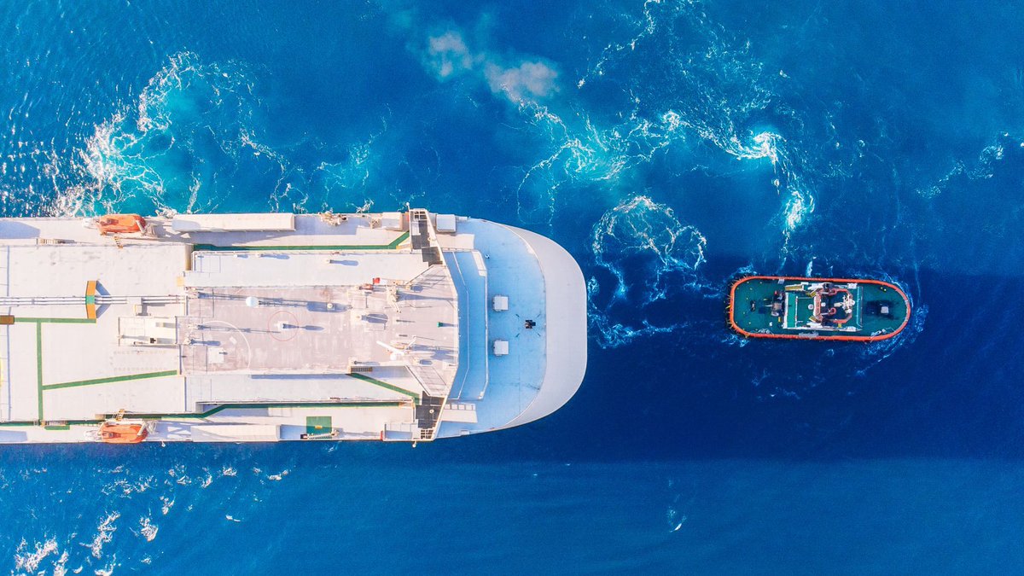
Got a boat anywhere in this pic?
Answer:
Yes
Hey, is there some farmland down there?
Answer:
No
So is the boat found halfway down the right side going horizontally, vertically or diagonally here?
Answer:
horizontally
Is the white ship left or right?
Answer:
left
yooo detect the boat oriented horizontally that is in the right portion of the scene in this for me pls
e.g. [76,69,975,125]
[725,274,910,342]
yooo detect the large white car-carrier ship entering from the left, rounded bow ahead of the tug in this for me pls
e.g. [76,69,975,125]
[0,201,588,449]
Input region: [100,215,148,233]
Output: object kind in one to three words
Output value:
boat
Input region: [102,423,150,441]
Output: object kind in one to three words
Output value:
boat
